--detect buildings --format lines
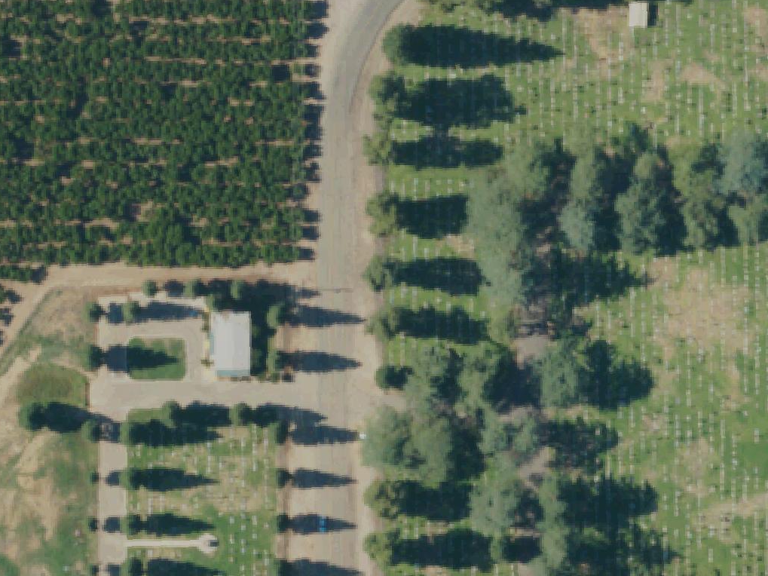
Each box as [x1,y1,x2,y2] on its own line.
[207,311,250,383]
[629,1,648,26]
